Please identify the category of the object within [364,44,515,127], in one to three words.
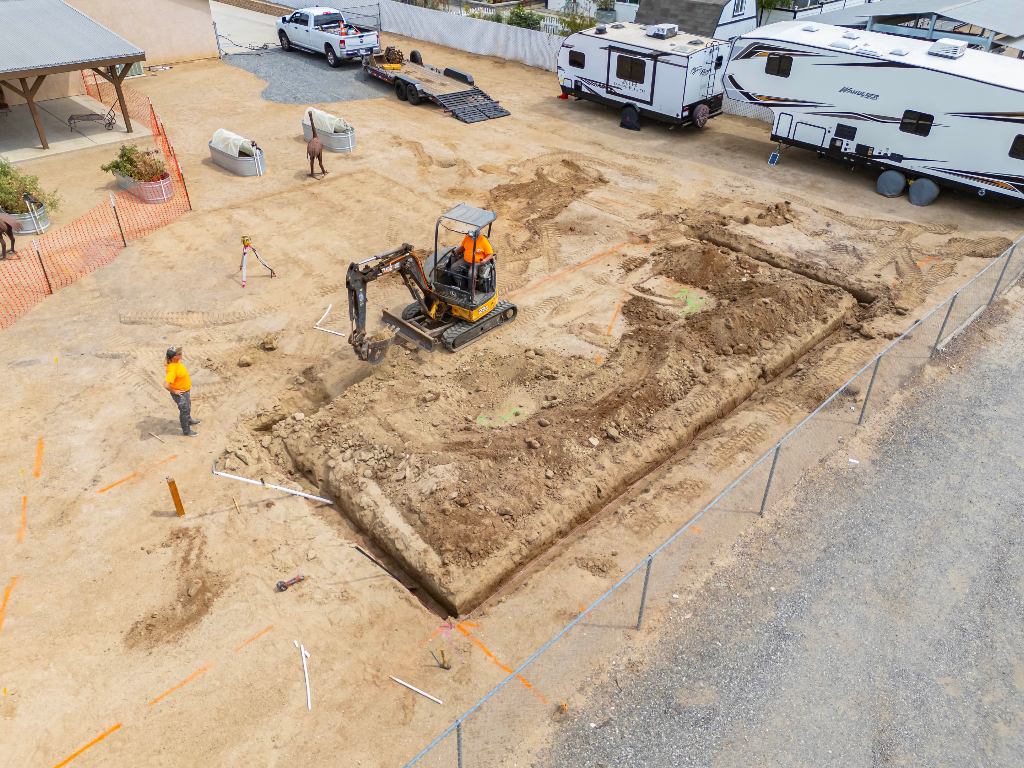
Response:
trailer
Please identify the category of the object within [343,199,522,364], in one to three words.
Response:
work vehicle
